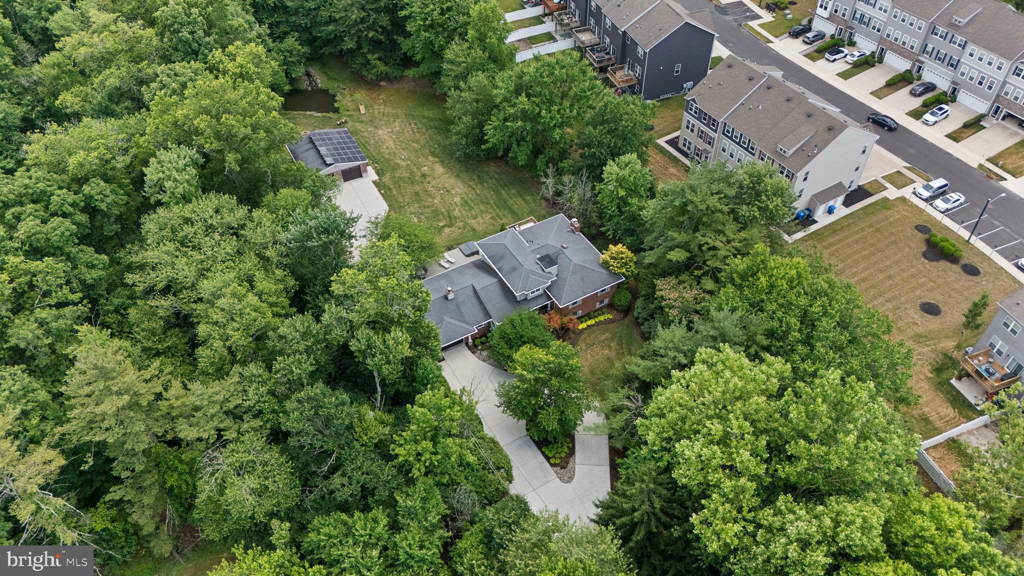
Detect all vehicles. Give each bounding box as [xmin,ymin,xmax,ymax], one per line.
[788,25,811,38]
[931,194,965,212]
[867,114,898,132]
[802,30,825,44]
[914,176,950,199]
[909,83,935,97]
[1012,252,1024,269]
[844,51,869,64]
[922,105,949,123]
[824,49,848,62]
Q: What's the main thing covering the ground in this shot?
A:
trees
